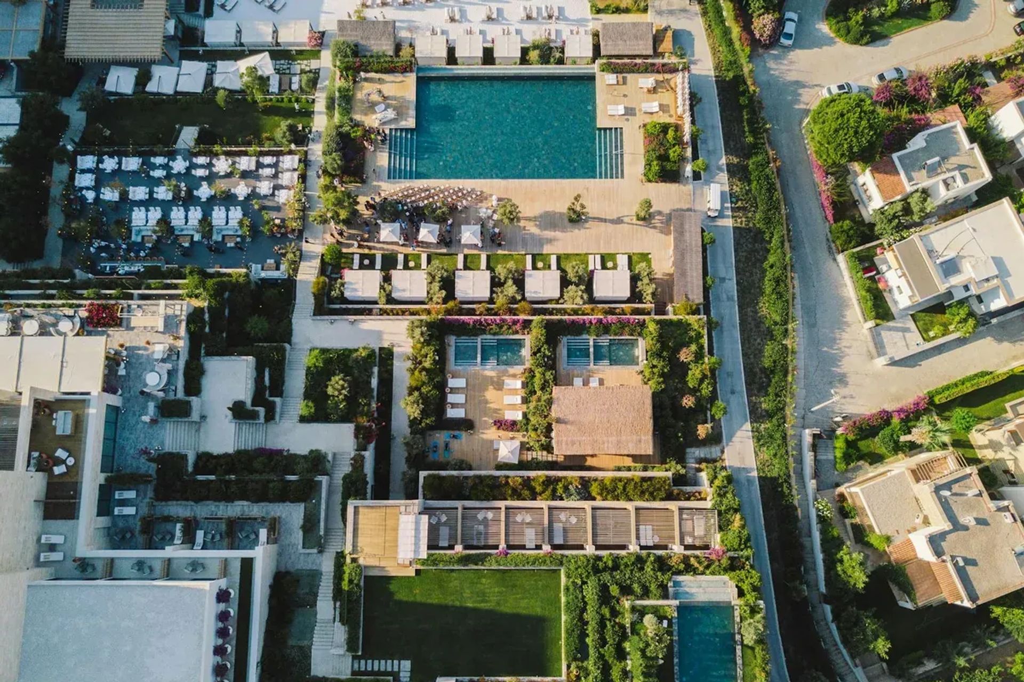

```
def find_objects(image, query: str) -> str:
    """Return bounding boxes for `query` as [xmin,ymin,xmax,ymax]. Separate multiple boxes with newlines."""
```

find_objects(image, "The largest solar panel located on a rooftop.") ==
[938,257,963,282]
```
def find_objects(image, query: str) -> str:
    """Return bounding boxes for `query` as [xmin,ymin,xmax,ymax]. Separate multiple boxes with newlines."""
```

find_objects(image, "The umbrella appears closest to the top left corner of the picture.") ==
[104,66,140,108]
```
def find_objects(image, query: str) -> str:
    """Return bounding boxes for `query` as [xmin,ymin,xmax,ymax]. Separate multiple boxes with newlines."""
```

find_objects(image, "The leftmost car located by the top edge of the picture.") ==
[778,13,796,46]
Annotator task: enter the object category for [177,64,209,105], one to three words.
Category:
umbrella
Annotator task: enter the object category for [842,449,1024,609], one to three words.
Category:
house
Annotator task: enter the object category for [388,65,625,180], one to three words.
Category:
swimming pool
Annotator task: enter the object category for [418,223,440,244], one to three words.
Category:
umbrella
